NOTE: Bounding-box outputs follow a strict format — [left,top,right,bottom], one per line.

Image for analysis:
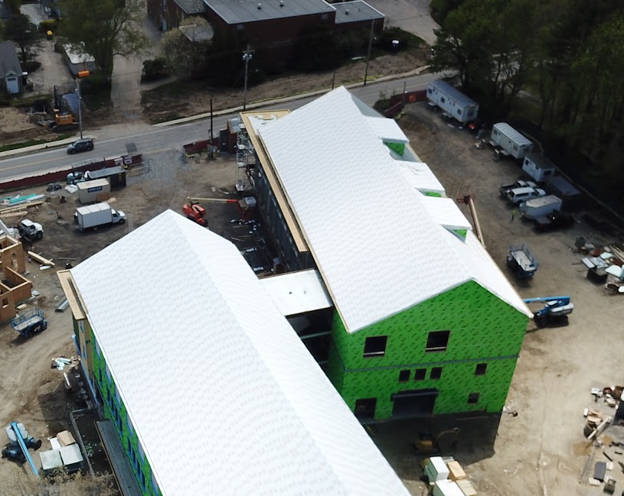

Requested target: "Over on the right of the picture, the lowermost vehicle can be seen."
[420,415,463,457]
